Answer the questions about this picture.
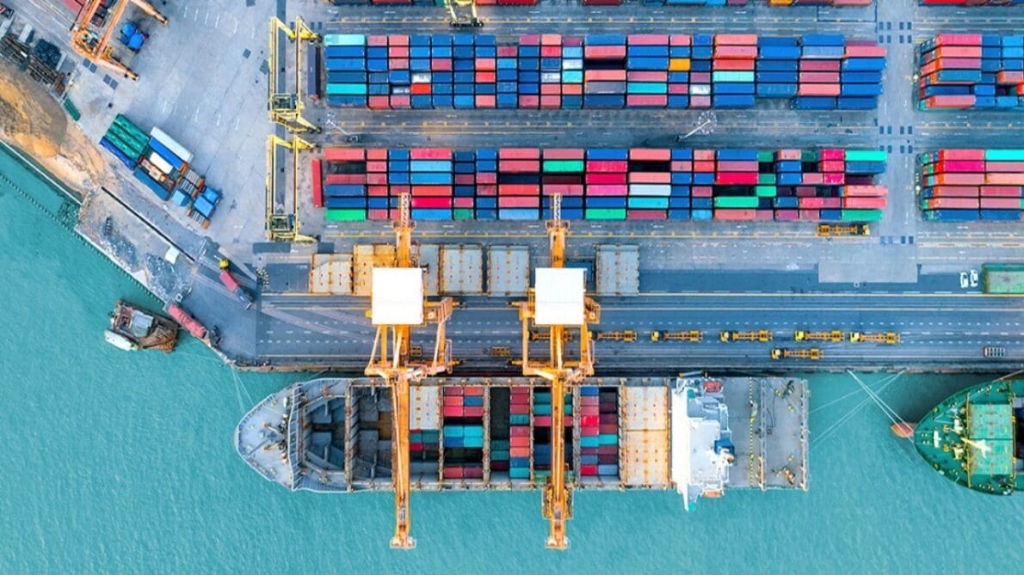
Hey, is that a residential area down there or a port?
port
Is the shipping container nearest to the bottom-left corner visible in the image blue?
No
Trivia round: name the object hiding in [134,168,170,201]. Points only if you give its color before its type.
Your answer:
blue shipping container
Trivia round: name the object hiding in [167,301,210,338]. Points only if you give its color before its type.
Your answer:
red shipping container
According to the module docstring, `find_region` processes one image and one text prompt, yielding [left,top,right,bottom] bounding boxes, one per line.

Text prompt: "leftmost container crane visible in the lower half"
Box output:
[359,194,466,548]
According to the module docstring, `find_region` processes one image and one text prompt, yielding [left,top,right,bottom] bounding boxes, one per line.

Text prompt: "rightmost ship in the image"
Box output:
[891,375,1024,496]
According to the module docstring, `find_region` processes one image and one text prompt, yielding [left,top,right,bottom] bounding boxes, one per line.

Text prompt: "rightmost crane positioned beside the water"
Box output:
[503,194,603,548]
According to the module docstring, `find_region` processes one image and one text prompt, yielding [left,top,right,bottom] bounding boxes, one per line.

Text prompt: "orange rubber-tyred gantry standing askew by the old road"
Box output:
[67,0,174,78]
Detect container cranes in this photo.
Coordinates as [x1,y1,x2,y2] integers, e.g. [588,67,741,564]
[268,134,323,239]
[359,194,466,548]
[503,194,603,548]
[67,0,174,78]
[270,15,325,128]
